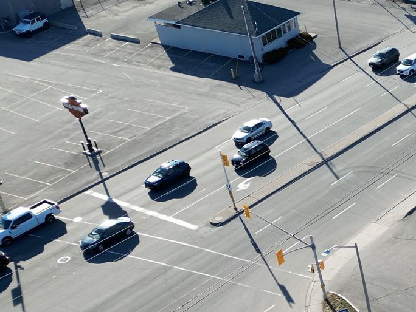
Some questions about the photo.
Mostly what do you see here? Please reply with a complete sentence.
The largest share of the image is taken up by paved ground.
